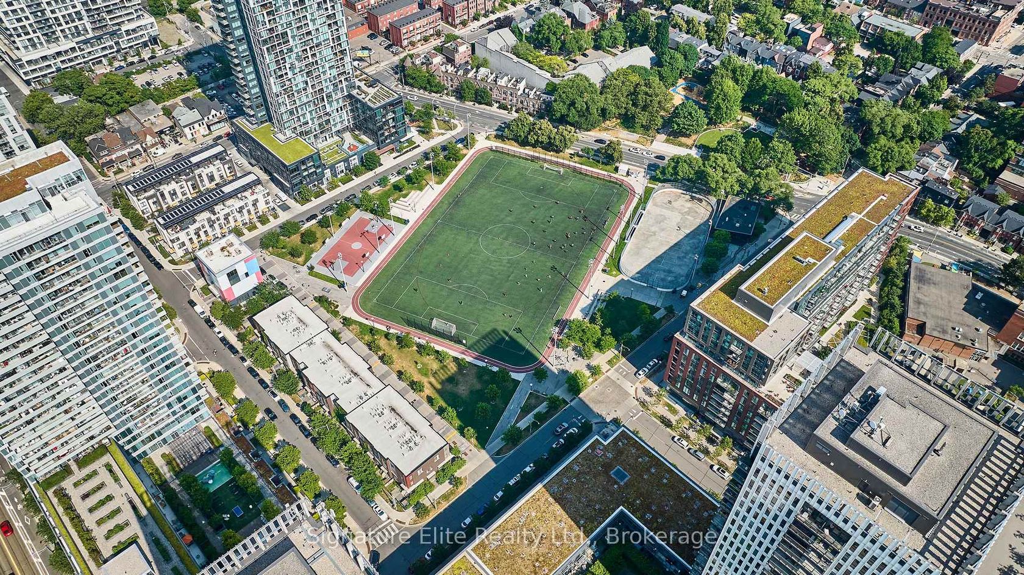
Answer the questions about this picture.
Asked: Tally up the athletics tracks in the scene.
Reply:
1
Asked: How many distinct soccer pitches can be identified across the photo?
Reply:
one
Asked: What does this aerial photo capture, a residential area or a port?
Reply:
residential area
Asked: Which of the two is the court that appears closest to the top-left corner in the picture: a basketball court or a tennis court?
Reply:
basketball court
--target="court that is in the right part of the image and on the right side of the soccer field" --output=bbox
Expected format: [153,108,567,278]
[621,182,714,290]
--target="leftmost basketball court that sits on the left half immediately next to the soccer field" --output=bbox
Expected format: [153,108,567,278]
[305,209,407,285]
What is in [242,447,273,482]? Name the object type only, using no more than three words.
house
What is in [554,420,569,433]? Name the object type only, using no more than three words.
vehicle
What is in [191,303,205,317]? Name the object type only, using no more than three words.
vehicle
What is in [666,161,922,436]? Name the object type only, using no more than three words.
building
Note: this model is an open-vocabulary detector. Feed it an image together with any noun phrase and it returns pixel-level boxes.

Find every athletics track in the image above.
[354,147,634,372]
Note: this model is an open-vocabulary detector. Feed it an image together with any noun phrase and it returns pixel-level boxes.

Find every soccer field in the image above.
[361,150,628,365]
